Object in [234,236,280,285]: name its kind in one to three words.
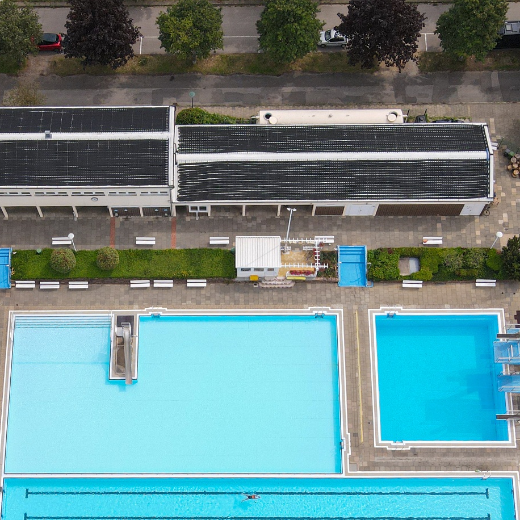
shed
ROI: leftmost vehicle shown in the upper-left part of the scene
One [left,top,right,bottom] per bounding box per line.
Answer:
[31,33,65,53]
